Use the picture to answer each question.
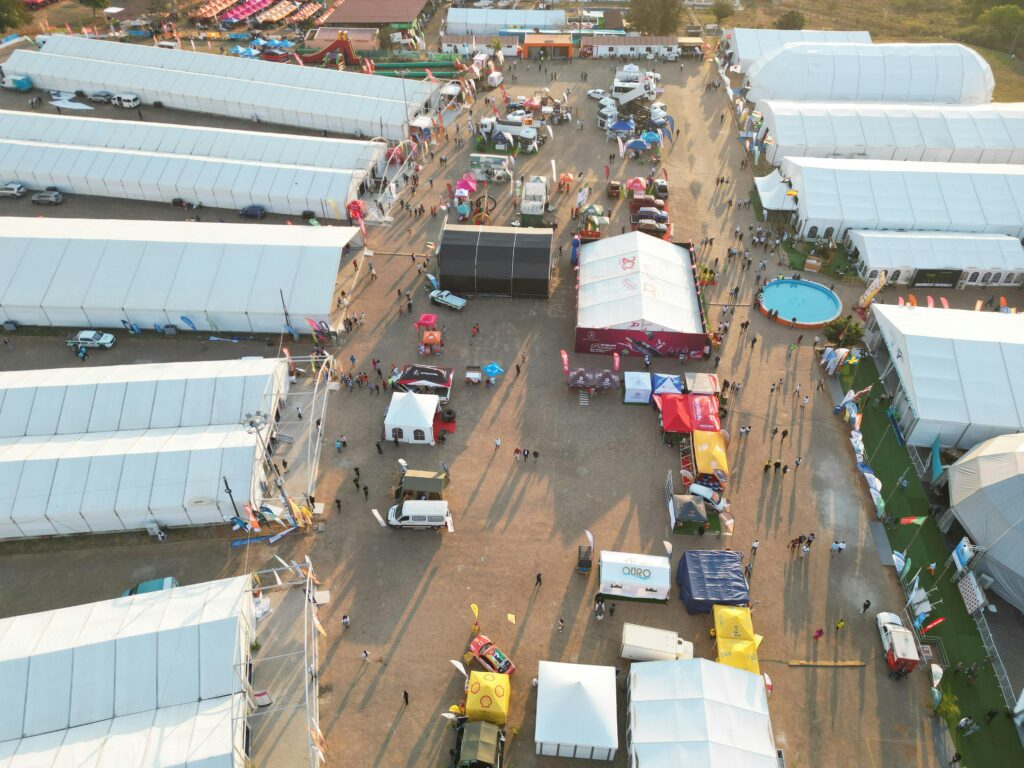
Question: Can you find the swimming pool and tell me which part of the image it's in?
right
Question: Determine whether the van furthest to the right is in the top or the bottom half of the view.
bottom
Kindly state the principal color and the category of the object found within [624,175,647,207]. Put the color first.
red gazebo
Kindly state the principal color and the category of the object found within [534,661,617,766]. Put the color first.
white tent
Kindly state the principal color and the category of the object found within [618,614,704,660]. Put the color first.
white truck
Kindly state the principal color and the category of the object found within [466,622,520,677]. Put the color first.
red car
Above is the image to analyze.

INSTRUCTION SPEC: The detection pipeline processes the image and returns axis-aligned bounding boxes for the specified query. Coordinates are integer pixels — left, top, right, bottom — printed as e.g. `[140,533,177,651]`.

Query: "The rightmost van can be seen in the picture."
[878,610,933,690]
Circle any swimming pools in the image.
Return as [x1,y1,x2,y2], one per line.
[754,278,844,332]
